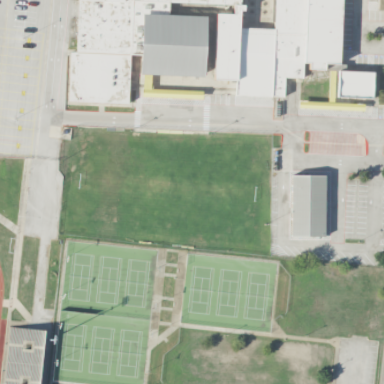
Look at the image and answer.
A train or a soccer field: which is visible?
soccer field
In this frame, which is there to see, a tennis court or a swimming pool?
tennis court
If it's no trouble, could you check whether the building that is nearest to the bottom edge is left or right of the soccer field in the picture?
right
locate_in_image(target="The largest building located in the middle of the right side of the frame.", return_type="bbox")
[291,175,328,238]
